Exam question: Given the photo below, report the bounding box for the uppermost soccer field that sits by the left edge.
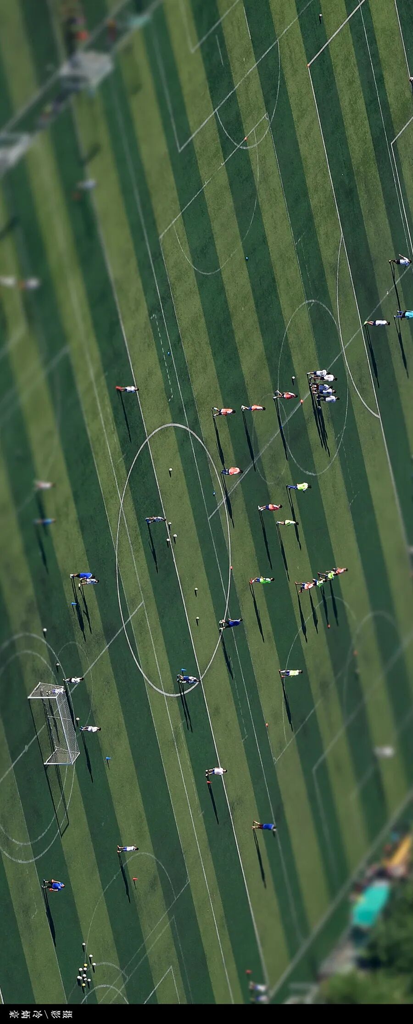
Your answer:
[0,0,126,133]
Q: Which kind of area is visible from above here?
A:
sports ground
